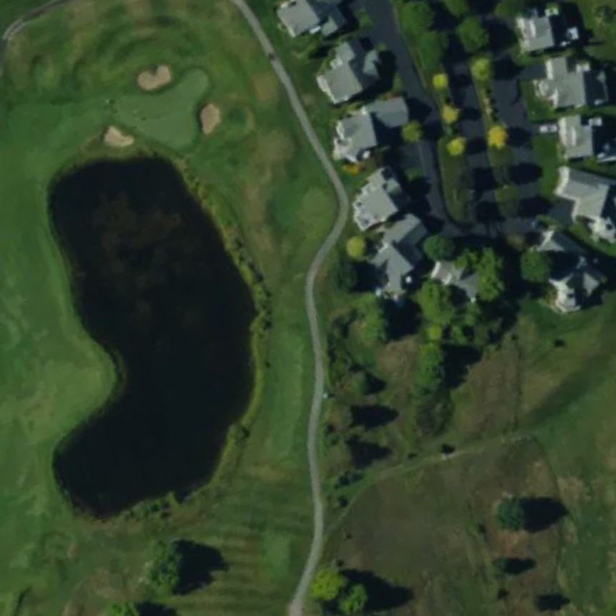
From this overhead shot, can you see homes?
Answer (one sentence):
Yes, this view includes a home.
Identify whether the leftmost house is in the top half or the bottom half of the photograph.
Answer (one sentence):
It is in the top half that the leftmost house appears.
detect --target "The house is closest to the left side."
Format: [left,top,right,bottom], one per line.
[277,0,352,51]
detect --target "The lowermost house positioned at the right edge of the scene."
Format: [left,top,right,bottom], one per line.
[539,228,607,315]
